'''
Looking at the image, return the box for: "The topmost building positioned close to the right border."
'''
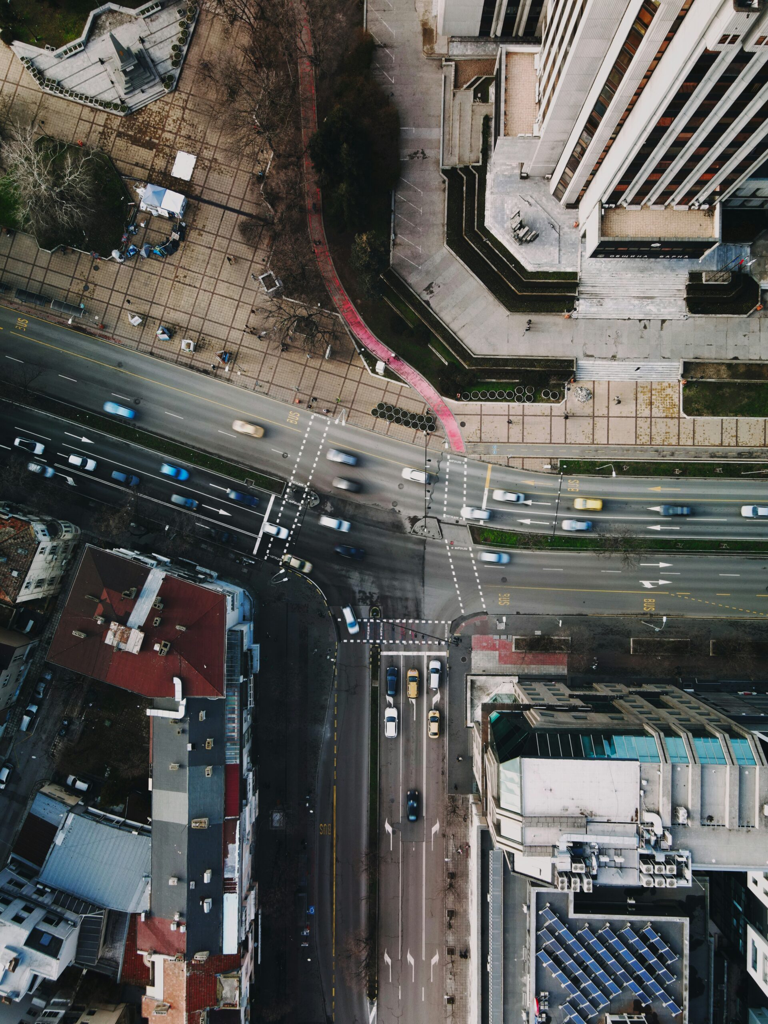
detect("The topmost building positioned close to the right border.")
[495,0,768,261]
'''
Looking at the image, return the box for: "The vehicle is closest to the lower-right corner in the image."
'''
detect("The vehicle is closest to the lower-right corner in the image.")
[405,790,420,822]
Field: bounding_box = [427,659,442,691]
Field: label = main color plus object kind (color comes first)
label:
white car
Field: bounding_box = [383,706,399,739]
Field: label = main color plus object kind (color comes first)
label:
white car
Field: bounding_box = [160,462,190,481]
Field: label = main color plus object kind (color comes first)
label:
blue car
